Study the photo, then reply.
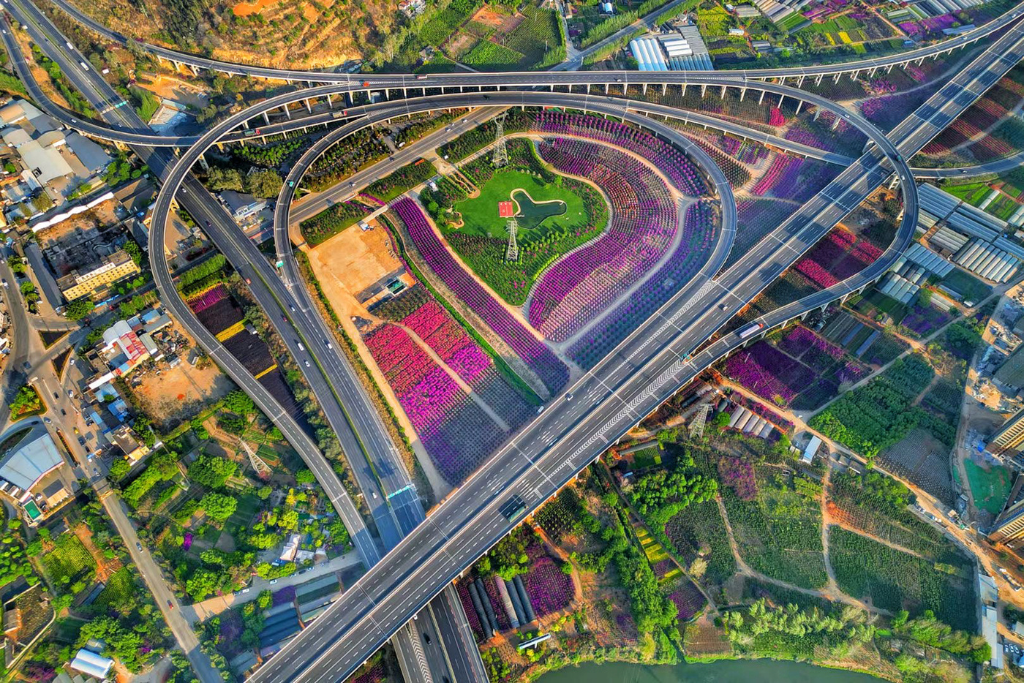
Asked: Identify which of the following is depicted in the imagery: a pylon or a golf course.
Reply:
pylon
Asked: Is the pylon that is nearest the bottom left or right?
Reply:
left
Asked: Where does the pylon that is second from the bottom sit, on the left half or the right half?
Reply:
right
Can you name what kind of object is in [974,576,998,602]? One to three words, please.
shed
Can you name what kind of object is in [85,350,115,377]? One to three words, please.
house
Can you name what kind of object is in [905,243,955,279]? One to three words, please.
greenhouse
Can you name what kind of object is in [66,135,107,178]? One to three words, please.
building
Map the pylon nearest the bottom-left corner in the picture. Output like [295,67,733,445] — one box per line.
[232,440,270,481]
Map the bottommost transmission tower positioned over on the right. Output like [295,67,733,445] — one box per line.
[686,403,721,445]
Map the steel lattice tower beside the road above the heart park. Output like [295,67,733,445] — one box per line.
[492,121,509,168]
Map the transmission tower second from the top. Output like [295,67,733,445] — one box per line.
[502,225,522,263]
